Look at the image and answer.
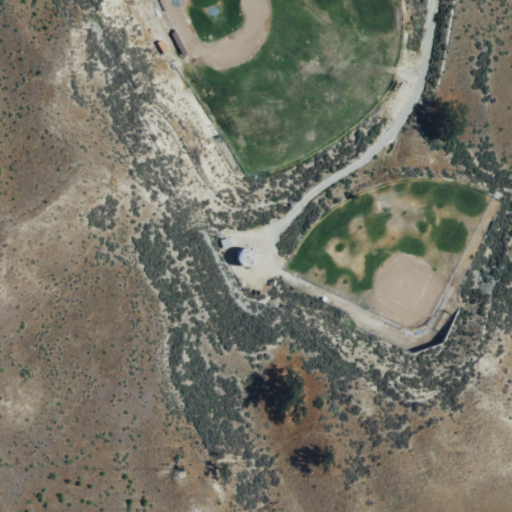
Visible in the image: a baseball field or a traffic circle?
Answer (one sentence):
Of the two, only a baseball field appears.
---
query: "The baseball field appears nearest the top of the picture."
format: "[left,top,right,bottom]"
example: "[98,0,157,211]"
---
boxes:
[165,0,403,176]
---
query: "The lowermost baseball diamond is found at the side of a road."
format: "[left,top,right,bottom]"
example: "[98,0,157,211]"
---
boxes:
[284,179,494,327]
